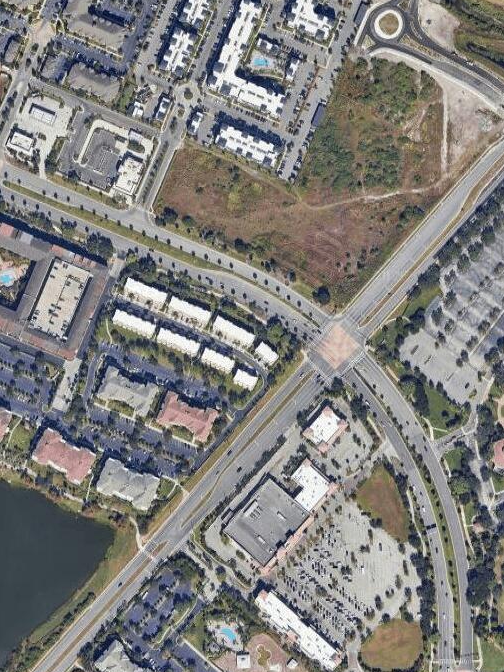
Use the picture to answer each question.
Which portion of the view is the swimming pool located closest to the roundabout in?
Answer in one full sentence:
The swimming pool located closest to the roundabout sits in the top section of the image.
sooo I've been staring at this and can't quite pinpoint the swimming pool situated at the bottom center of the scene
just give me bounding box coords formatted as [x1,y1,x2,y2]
[208,622,245,651]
